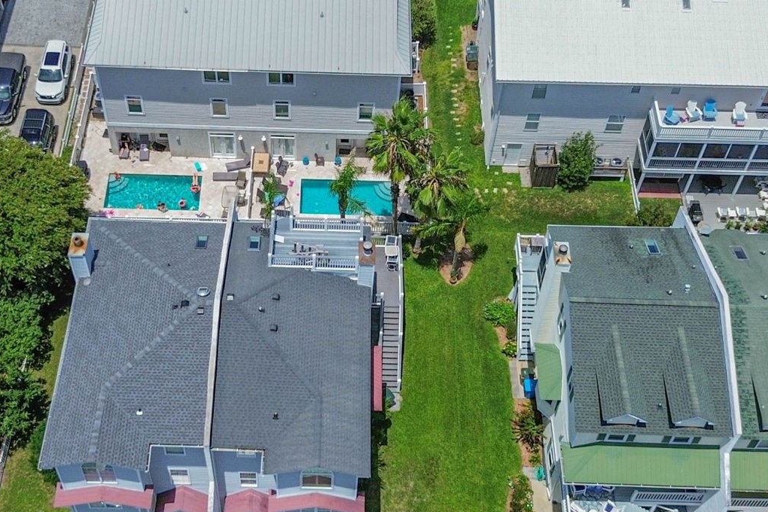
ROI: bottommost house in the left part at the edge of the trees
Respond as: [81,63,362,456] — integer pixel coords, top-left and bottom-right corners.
[39,188,406,512]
